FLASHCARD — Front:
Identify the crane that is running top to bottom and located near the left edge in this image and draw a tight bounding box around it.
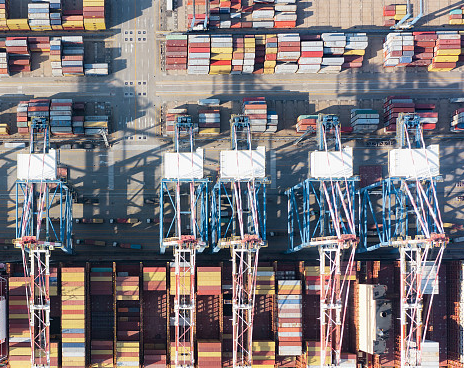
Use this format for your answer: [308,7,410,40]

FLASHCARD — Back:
[13,116,77,368]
